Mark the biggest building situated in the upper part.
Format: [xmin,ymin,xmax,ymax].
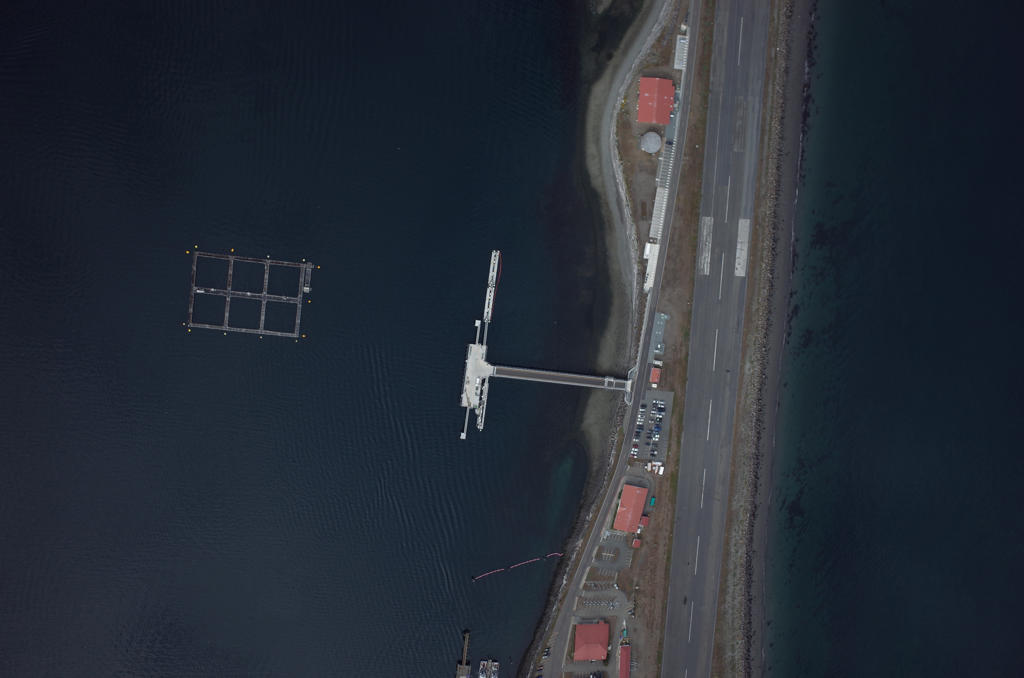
[637,77,675,126]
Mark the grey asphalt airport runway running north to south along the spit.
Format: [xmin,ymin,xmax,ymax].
[661,0,770,678]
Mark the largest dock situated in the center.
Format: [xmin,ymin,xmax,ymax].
[459,320,632,439]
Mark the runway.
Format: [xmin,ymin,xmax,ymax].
[661,0,770,678]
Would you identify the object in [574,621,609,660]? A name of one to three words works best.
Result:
building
